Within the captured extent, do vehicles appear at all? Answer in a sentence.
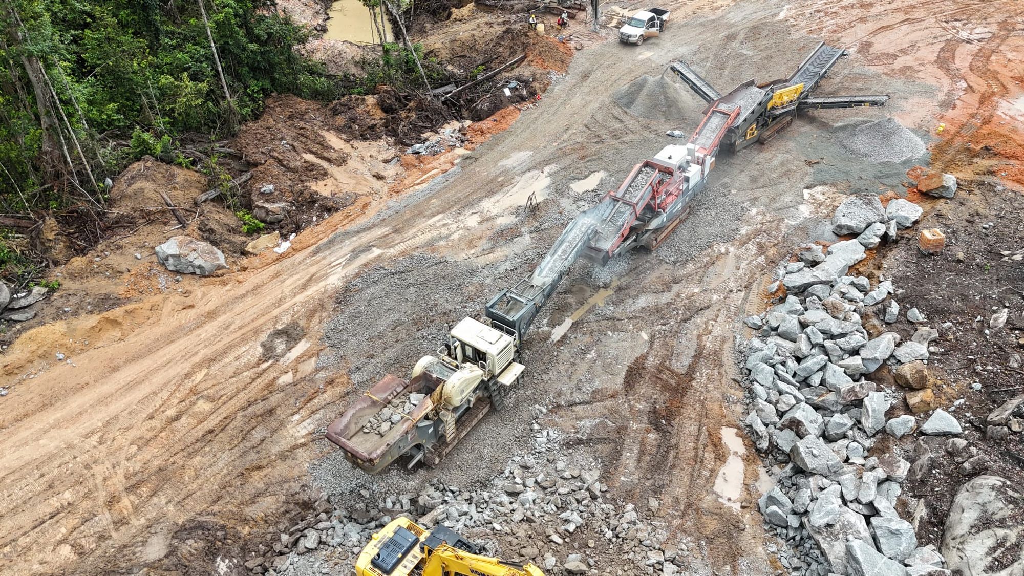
Yes, this view includes a vehicle.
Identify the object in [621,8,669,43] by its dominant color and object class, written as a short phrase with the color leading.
white truck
